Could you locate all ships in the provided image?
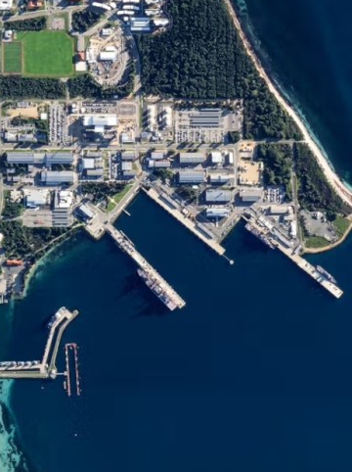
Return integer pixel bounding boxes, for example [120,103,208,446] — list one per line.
[48,315,58,327]
[140,269,179,312]
[316,265,337,284]
[245,224,276,249]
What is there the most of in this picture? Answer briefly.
water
